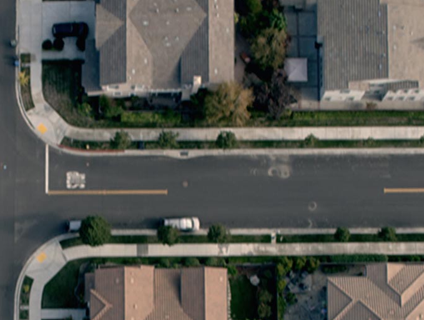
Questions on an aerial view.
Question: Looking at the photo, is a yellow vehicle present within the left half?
No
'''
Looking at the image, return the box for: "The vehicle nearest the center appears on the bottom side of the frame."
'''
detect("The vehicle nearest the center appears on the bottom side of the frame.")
[160,216,200,232]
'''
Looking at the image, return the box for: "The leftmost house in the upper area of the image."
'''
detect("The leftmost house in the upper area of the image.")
[83,0,237,98]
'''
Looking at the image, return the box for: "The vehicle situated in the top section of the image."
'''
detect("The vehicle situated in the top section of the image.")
[53,19,87,36]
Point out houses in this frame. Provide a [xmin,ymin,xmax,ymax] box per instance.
[323,263,424,320]
[84,266,228,320]
[316,0,424,101]
[83,0,237,98]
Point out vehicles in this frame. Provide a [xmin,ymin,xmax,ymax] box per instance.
[63,218,87,233]
[53,19,87,36]
[160,216,200,232]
